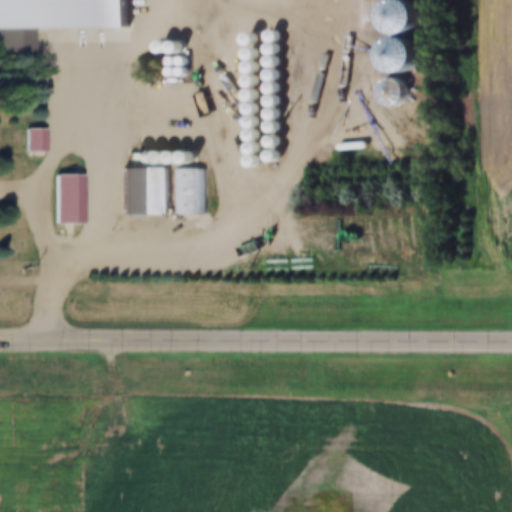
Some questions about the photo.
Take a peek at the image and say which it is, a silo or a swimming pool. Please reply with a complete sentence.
The image shows a silo.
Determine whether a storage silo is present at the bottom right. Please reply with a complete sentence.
No, I see no storage silo at the bottom right.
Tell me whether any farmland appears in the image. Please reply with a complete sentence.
Yes, farmland shows up in the scene.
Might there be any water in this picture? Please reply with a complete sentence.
No, there's no water in this view.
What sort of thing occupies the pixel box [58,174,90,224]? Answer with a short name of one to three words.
house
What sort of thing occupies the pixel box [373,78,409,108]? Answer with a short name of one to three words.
silo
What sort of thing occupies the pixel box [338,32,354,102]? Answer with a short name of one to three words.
vehicle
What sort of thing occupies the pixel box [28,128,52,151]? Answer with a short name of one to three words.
building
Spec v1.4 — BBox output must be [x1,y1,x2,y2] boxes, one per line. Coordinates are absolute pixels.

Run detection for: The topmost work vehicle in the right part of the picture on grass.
[332,220,360,251]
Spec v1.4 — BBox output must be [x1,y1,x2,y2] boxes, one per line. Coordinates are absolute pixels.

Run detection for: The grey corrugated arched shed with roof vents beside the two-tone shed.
[175,168,207,214]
